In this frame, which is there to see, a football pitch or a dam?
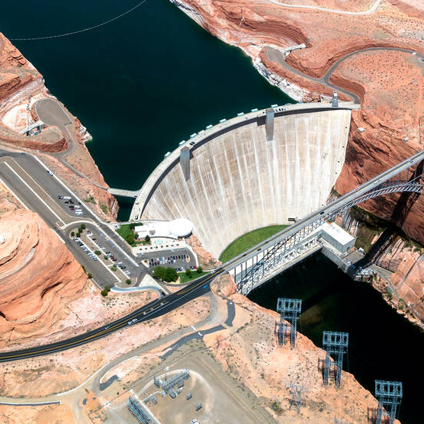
dam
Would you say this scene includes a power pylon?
Yes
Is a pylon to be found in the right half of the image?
Yes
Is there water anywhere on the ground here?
Yes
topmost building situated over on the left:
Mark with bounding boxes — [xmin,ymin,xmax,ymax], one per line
[135,219,193,242]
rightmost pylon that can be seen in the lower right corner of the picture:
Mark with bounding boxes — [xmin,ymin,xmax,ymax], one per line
[370,381,403,424]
